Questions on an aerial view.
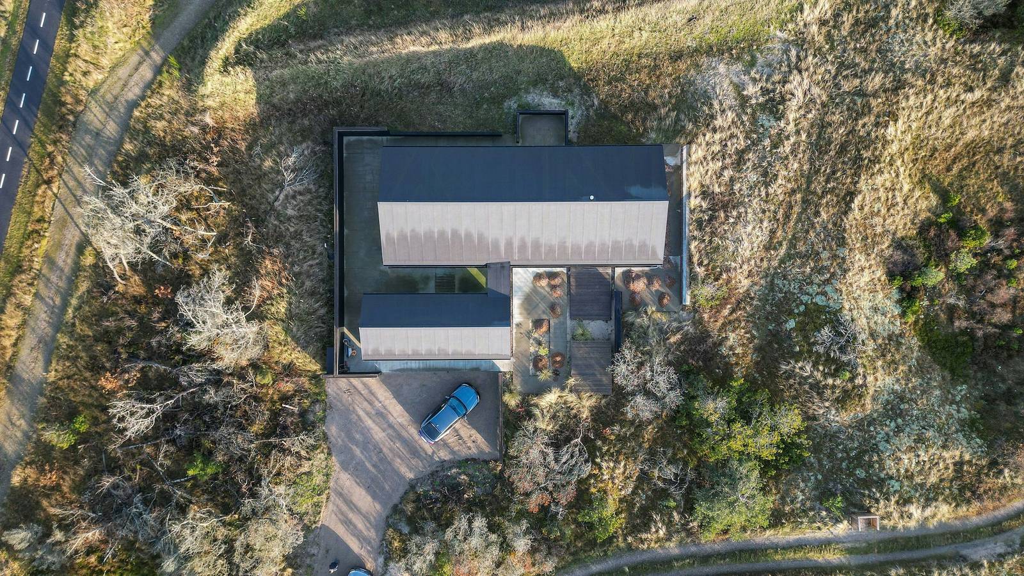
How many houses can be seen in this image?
one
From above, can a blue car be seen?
Yes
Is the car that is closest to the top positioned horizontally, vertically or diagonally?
diagonally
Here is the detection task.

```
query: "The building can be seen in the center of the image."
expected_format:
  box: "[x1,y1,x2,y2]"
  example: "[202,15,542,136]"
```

[359,145,670,362]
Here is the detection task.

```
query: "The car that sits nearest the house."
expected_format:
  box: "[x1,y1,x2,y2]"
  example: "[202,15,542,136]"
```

[418,382,481,447]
